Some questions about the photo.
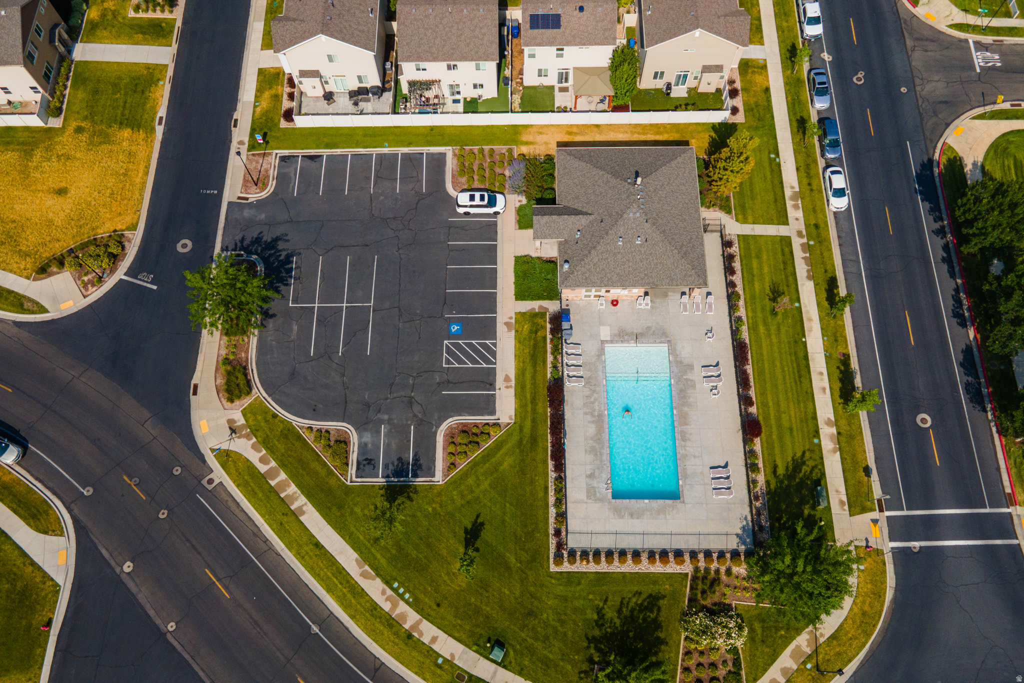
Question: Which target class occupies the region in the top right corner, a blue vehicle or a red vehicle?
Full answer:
What appears in the top right corner is a blue vehicle.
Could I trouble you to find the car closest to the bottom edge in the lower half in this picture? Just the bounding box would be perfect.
[0,432,26,466]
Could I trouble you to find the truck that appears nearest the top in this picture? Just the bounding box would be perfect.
[798,0,824,39]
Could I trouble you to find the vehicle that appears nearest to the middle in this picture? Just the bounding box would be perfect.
[457,191,505,216]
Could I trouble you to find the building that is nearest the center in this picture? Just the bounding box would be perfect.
[532,146,709,300]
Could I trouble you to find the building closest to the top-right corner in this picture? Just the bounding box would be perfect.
[635,0,753,92]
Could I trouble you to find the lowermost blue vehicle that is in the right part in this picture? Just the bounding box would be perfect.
[819,121,844,161]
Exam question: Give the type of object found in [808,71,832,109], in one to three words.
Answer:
car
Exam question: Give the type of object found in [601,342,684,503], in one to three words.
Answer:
swimming pool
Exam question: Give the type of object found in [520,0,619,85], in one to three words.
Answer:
house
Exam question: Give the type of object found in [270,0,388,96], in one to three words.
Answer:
house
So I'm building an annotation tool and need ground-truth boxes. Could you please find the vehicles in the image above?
[819,121,844,161]
[824,168,851,211]
[0,432,26,466]
[457,191,505,216]
[808,71,832,109]
[798,0,824,39]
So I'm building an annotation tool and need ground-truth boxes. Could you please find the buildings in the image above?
[398,0,499,97]
[520,0,619,85]
[270,0,388,96]
[635,0,753,92]
[532,146,709,300]
[0,0,85,97]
